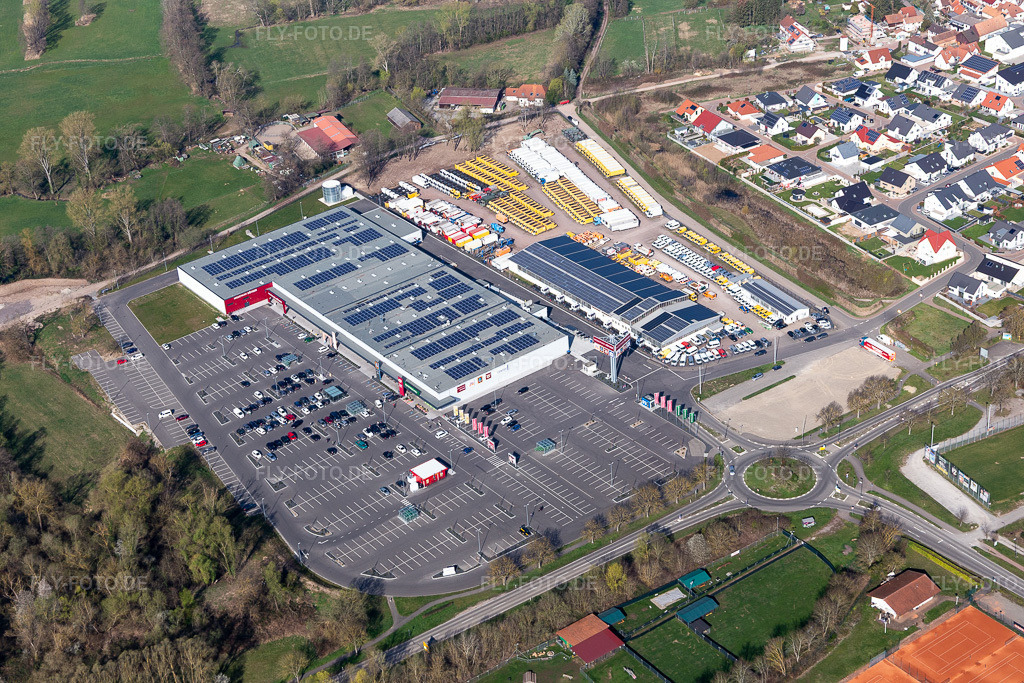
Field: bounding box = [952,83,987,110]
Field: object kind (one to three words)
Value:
house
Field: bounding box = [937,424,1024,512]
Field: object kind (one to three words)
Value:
sports field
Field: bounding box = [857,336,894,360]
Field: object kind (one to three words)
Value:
truck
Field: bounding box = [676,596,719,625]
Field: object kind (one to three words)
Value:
shed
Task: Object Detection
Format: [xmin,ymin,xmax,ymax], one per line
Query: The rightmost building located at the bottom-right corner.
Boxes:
[865,572,943,626]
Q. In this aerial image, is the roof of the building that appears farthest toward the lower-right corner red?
Yes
